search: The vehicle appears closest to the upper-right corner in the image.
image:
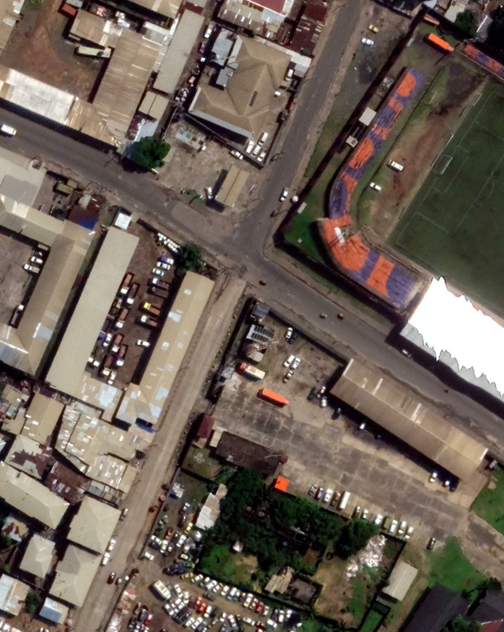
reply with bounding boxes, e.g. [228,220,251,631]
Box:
[429,32,455,52]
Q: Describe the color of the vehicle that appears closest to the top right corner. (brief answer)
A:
orange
